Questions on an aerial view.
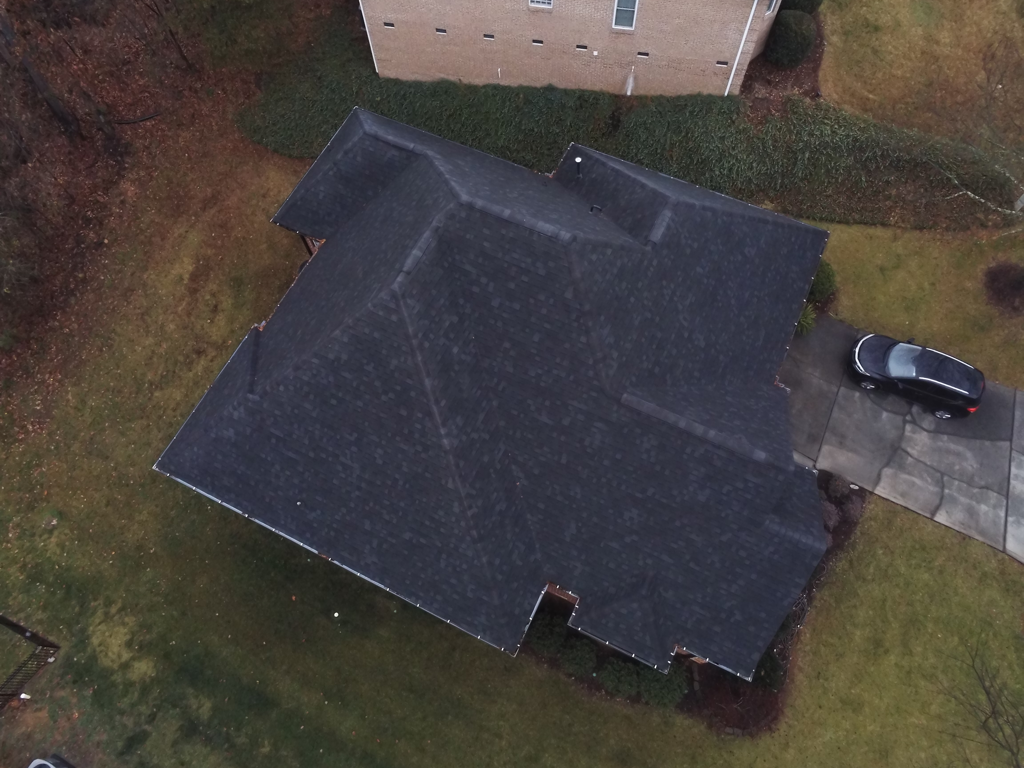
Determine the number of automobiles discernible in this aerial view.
one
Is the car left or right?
right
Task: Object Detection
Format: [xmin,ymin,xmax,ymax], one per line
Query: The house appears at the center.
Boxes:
[152,107,831,679]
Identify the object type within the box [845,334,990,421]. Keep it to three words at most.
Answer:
car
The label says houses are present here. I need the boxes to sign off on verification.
[152,107,831,679]
[357,0,782,97]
